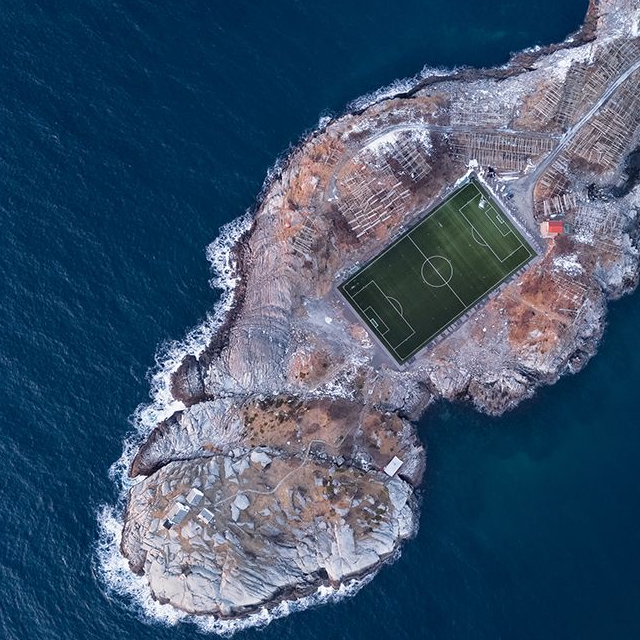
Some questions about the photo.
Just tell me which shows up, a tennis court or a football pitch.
football pitch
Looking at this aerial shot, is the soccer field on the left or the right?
right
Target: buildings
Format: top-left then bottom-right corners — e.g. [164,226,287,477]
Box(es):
[548,222,564,234]
[166,501,190,526]
[383,455,403,475]
[186,487,206,507]
[198,507,215,524]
